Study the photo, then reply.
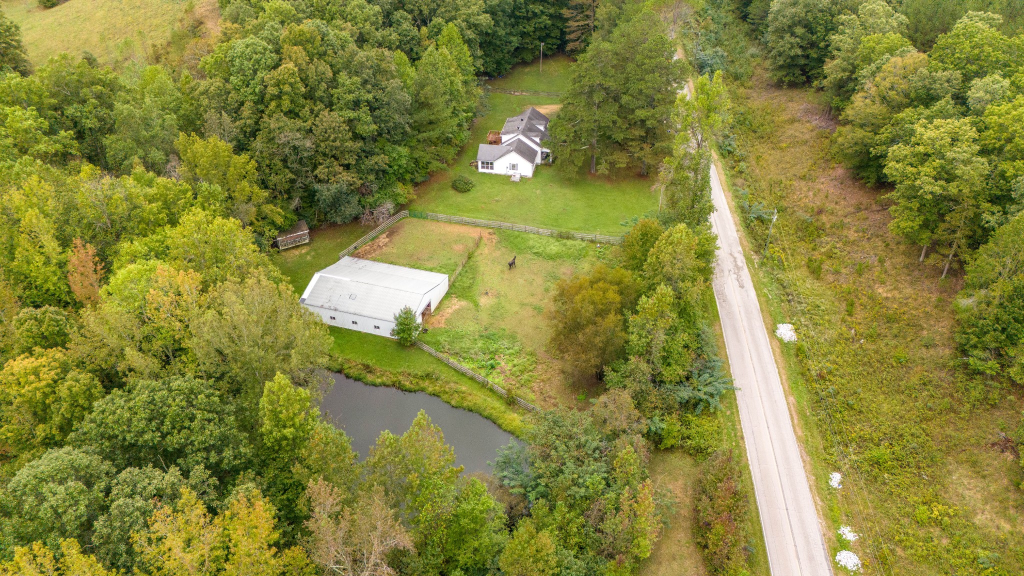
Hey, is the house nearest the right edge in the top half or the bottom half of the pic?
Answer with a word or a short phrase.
top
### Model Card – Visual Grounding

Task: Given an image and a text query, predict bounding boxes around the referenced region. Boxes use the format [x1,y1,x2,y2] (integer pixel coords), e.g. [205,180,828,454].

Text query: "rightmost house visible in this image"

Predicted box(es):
[476,107,562,177]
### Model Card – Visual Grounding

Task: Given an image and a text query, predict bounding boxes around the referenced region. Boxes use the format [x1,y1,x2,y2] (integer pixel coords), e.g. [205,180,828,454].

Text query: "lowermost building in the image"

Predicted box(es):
[296,256,449,337]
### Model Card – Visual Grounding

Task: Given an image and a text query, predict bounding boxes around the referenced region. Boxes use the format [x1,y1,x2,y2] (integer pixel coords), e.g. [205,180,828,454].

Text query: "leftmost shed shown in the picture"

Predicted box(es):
[272,221,311,250]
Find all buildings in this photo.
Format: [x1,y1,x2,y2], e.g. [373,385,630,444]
[296,256,449,337]
[476,107,562,177]
[272,221,311,250]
